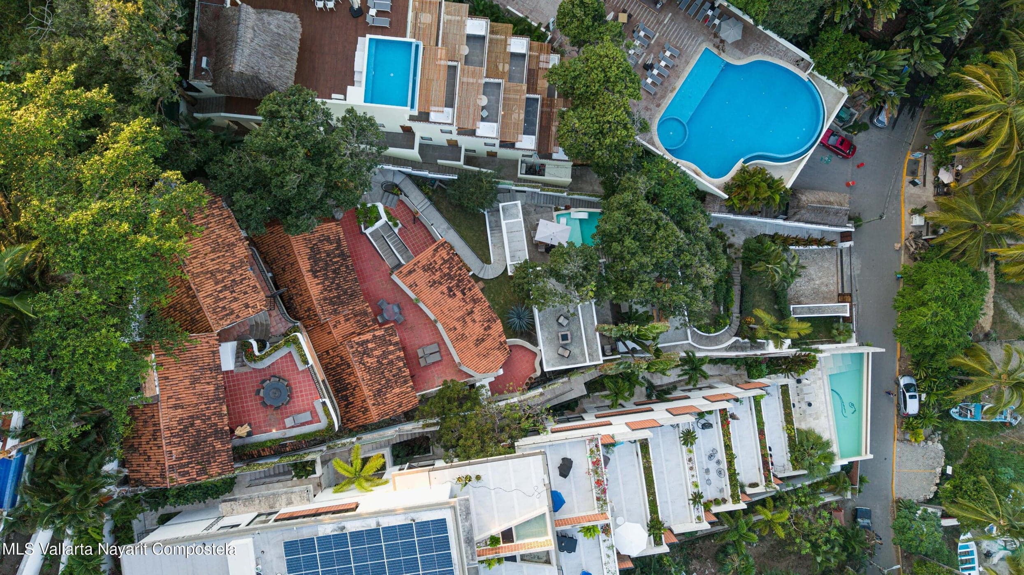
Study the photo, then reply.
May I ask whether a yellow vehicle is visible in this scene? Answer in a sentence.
No, there appears to be no yellow vehicle in this shot.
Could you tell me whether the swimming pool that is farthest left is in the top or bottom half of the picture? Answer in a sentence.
You can find the swimming pool that is farthest left in the top half.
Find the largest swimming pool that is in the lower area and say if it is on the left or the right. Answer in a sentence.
It is on the right.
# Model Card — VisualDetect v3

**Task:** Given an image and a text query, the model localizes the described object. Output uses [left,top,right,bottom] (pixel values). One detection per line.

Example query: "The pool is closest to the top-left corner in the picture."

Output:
[363,34,424,128]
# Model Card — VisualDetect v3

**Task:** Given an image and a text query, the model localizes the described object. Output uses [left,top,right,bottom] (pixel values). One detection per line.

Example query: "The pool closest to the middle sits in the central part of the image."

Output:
[552,208,609,260]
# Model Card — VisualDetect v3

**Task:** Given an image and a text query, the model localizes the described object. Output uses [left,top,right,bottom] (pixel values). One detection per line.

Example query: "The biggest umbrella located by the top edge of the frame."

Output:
[718,17,745,44]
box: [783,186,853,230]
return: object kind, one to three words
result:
shed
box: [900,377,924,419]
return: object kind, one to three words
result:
car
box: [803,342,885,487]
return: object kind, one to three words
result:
swimming pool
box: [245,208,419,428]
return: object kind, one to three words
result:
house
